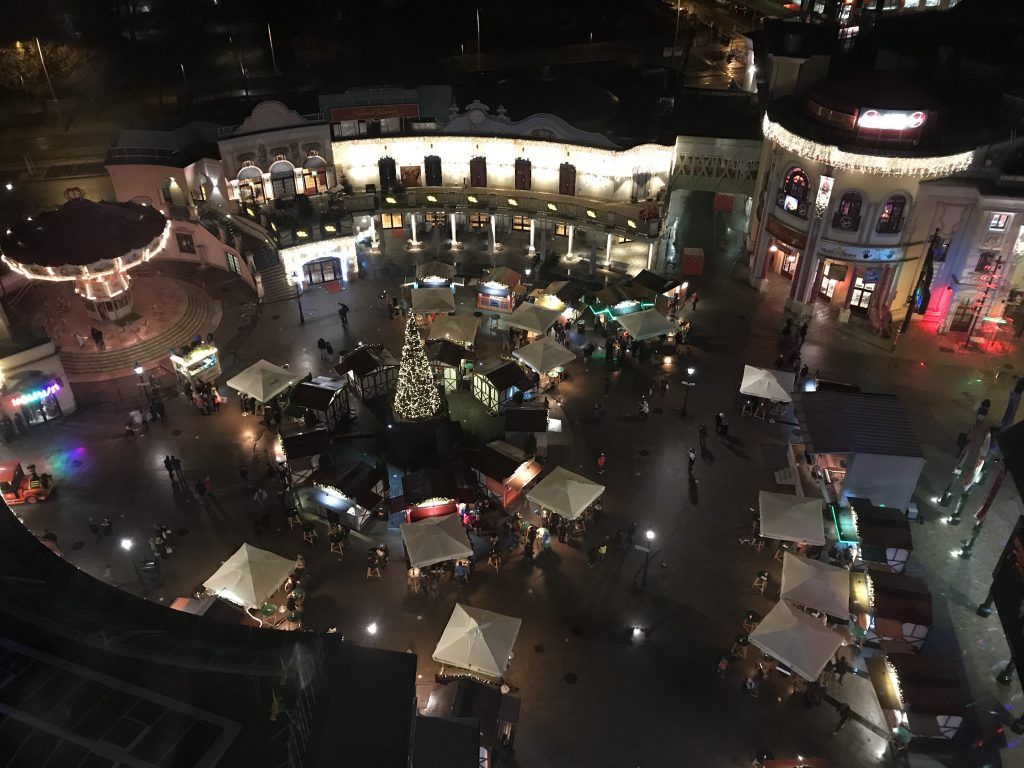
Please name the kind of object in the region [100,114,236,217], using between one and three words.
building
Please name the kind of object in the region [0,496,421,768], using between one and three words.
building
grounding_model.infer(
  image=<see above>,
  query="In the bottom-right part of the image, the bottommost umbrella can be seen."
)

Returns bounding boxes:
[748,600,845,683]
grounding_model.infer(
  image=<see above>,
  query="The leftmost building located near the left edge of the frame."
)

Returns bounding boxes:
[0,314,75,442]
